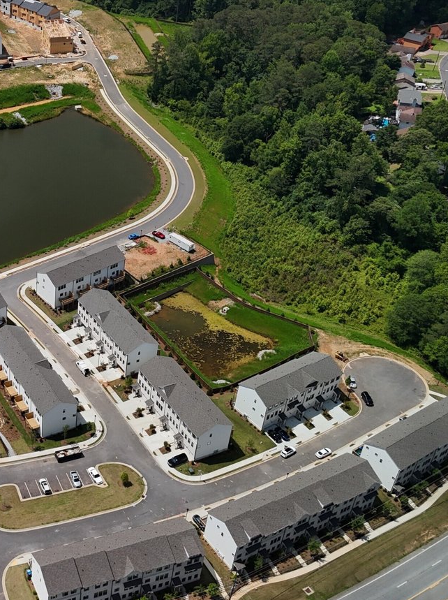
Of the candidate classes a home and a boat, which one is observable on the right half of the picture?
home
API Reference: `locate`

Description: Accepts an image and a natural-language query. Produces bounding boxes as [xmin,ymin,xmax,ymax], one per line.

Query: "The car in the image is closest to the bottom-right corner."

[315,445,332,457]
